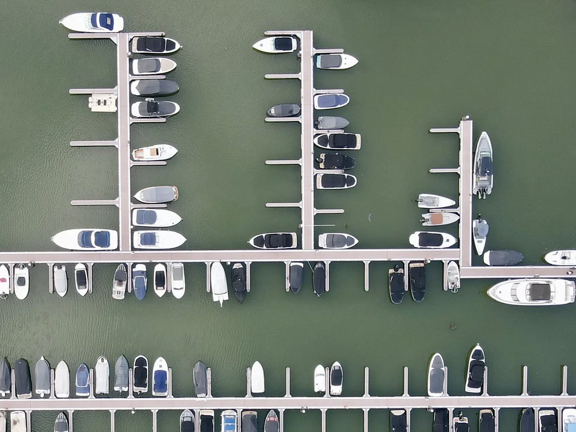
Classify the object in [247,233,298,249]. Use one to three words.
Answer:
boat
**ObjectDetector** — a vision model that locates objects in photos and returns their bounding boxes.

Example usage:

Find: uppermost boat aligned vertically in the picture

[474,132,493,204]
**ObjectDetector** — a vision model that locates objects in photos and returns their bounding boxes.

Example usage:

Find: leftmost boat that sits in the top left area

[58,10,125,33]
